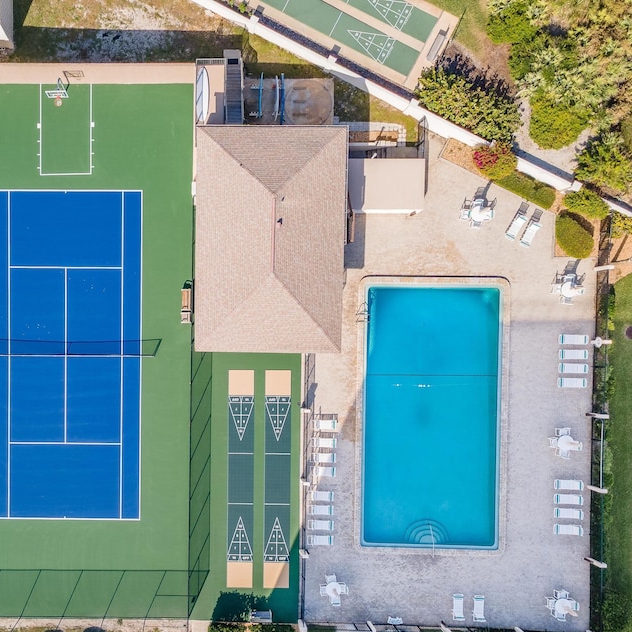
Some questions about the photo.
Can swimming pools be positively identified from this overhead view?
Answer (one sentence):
Yes, there is a swimming pool in the image.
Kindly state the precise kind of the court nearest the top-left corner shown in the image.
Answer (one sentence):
What you see as the court nearest the top-left corner is a basketball court.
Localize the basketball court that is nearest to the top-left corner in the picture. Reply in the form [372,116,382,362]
[37,83,95,175]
